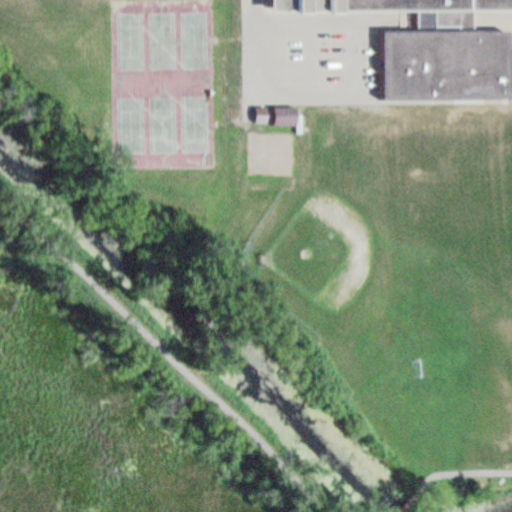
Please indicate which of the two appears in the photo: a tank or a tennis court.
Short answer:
tennis court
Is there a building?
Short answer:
Yes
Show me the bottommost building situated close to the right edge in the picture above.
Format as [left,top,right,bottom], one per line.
[385,32,511,101]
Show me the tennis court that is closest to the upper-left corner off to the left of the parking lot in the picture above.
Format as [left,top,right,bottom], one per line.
[116,13,146,71]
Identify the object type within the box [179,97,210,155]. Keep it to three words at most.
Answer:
tennis court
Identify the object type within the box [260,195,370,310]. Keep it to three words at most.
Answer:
baseball field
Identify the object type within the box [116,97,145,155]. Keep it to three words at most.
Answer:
tennis court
